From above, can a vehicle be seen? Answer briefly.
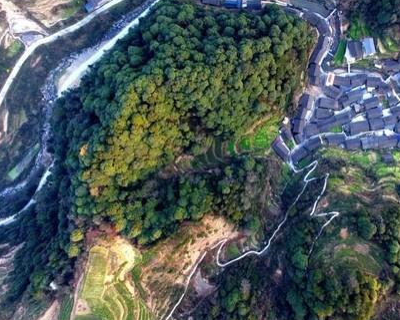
No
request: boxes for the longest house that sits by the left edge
[17,29,47,42]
